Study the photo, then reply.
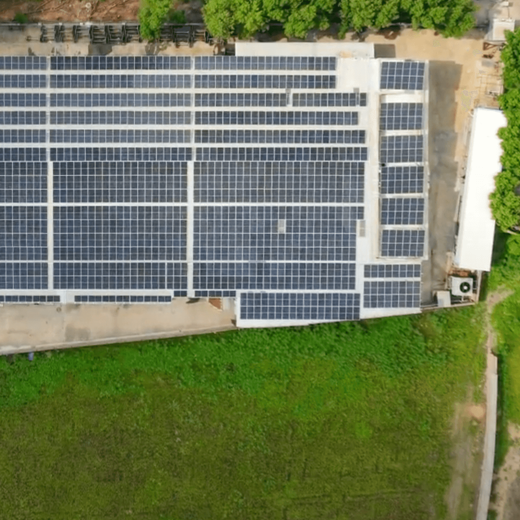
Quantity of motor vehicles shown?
0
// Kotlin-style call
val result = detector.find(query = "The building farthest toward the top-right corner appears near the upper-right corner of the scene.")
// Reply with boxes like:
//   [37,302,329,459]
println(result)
[484,19,515,43]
